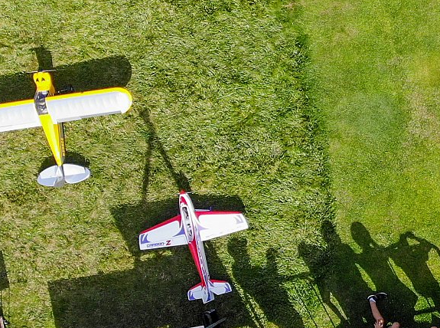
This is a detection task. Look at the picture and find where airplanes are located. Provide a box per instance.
[0,69,134,189]
[140,190,248,305]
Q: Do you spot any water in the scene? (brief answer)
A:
No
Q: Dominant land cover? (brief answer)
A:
grass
